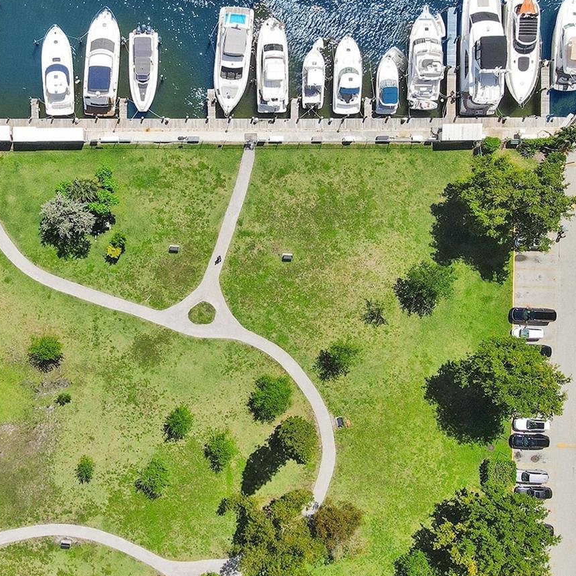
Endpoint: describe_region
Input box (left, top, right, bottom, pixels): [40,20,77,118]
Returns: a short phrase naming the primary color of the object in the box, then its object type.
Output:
white boat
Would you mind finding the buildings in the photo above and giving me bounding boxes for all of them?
[14,128,85,144]
[434,123,483,143]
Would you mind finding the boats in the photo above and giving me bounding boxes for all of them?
[502,0,549,110]
[40,20,77,118]
[254,14,290,117]
[389,46,406,77]
[373,53,401,118]
[548,0,576,96]
[301,38,328,115]
[436,16,447,38]
[330,31,365,118]
[212,4,254,118]
[83,2,123,118]
[404,3,452,101]
[128,26,160,112]
[407,100,437,112]
[455,0,506,118]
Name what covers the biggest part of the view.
grass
